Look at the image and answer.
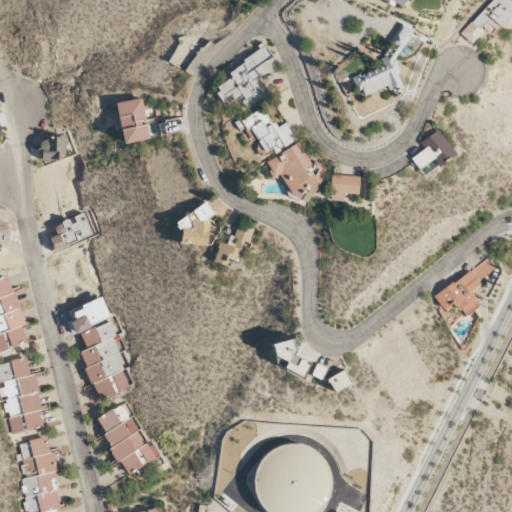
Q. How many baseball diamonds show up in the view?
0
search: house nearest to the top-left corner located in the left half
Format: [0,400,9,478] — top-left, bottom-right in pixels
[42,136,68,164]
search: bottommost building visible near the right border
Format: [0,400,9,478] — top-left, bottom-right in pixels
[434,258,497,316]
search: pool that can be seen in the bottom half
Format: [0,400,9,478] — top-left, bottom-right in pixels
[454,319,472,336]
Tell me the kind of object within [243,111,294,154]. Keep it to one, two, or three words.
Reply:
house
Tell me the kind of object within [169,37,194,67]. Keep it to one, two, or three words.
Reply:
building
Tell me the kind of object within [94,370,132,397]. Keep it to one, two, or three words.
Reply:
house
